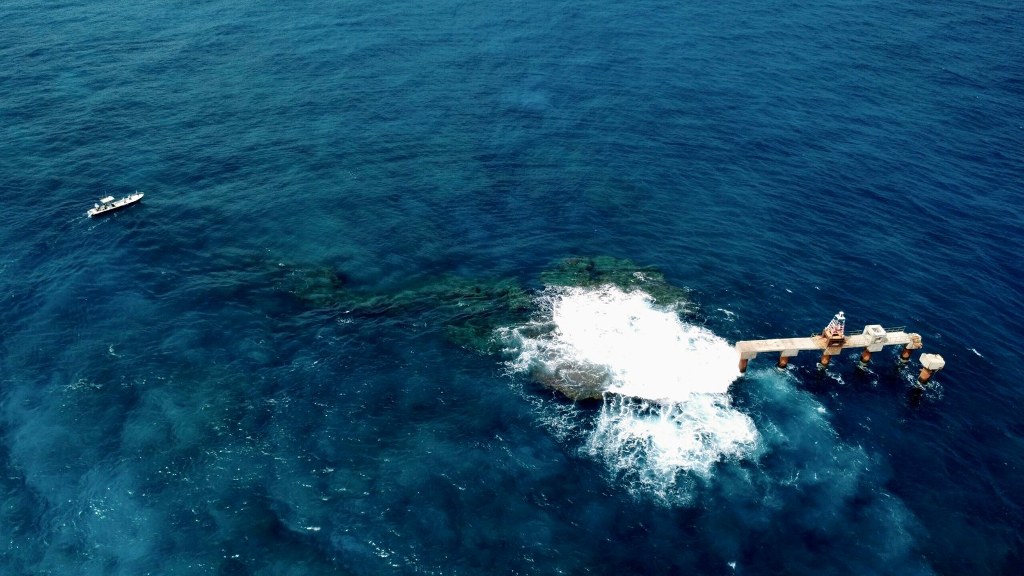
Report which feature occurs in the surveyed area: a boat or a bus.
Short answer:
boat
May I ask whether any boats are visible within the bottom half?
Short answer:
No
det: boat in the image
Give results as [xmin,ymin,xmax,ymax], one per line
[83,189,143,217]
